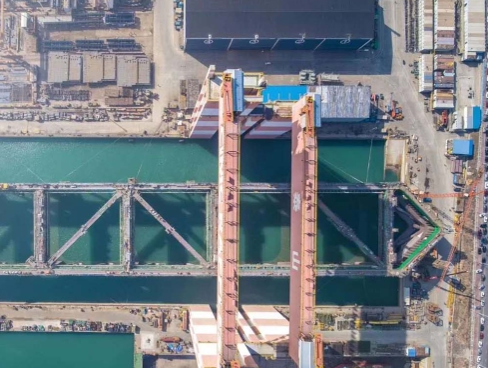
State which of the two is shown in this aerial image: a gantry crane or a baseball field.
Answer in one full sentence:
Of the two, only a gantry crane appears.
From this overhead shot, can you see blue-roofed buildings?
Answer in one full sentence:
Yes, the picture does show a blue-roofed building.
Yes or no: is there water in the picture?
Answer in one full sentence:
Yes, the picture does contain water.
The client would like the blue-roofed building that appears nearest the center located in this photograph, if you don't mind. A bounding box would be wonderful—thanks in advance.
[259,85,310,100]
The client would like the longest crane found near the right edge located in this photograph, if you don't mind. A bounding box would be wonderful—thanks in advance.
[416,167,486,281]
